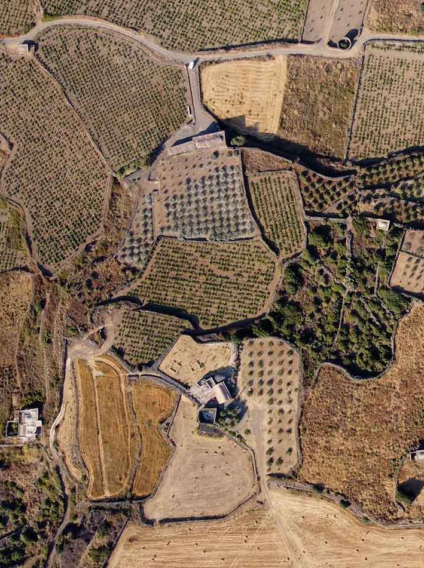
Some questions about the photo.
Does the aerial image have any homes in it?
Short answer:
Yes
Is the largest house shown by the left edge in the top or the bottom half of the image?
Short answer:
bottom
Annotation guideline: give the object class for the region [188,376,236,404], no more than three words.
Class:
house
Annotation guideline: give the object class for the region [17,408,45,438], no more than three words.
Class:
house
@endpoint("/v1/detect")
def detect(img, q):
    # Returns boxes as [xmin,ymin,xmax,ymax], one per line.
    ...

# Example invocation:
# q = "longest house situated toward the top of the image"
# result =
[167,131,231,158]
